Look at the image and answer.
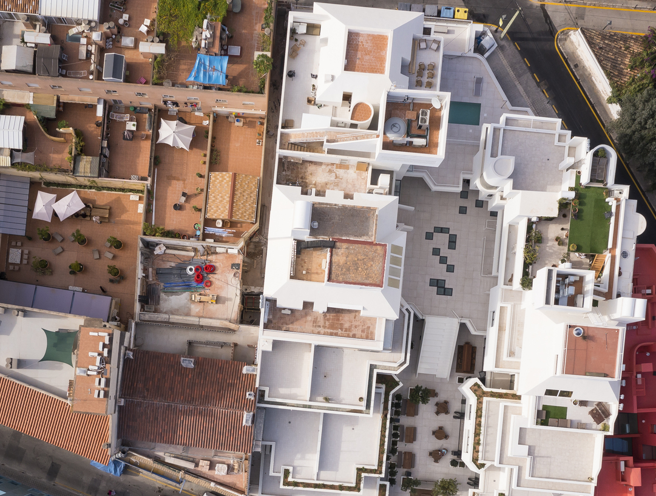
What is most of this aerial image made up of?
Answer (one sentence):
Most of the picture is covered by buildings.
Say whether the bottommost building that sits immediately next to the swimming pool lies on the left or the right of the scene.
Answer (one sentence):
The bottommost building that sits immediately next to the swimming pool is on the right side of the image.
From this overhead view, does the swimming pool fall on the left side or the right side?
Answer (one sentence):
The swimming pool sits on the right side.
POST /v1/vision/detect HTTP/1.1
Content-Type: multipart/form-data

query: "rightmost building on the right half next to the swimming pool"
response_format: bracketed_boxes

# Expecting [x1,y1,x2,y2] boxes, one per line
[470,113,651,402]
